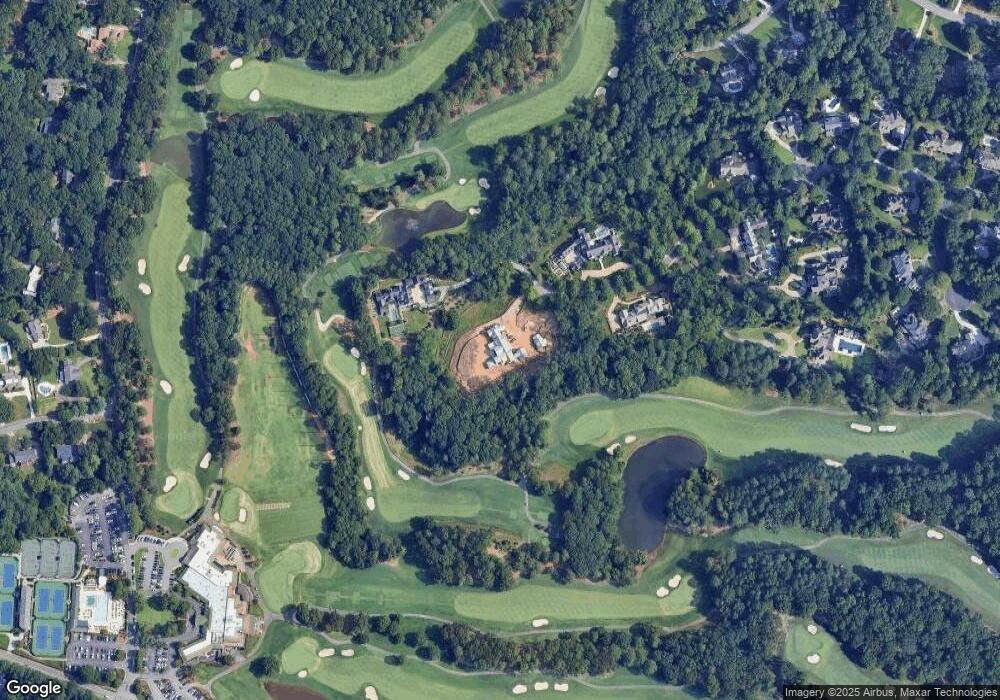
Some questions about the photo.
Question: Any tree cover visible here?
Yes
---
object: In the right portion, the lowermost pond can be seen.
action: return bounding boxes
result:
[620,434,707,552]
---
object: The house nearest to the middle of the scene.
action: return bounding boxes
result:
[484,324,527,371]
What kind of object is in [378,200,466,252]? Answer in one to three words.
pond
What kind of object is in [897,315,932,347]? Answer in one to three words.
house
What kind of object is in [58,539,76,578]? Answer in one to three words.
tennis court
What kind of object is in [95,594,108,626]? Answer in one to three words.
swimming pool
